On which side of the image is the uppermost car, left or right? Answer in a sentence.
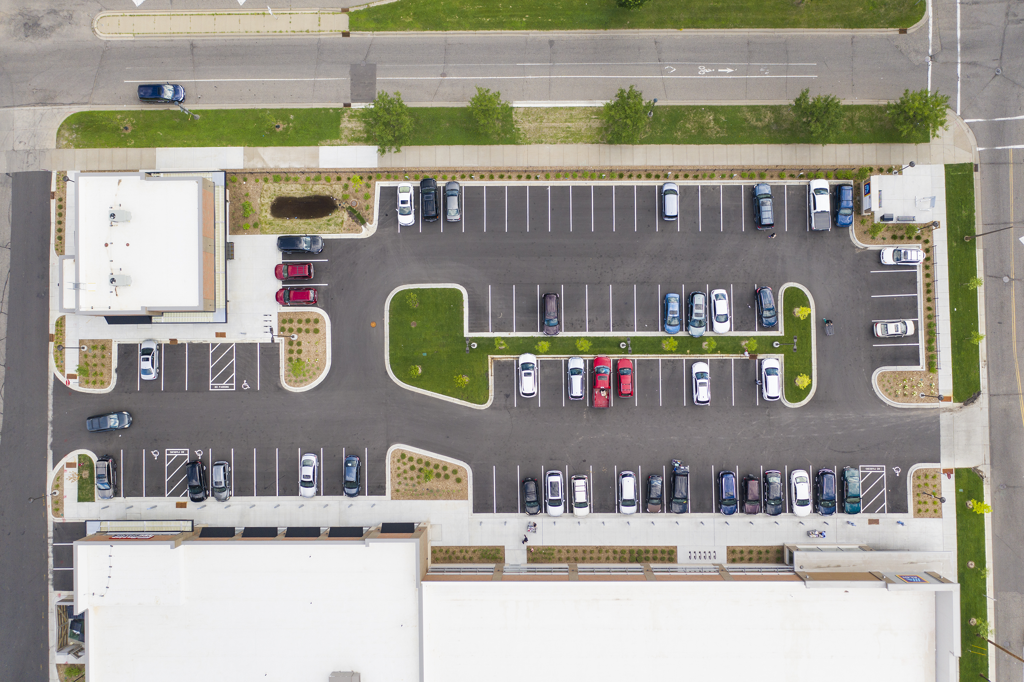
You can find the uppermost car on the left side of the picture.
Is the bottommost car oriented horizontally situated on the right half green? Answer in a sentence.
No, from above the bottommost car oriented horizontally situated on the right half looks white.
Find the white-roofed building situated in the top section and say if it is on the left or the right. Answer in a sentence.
You can find the white-roofed building situated in the top section on the left side of the picture.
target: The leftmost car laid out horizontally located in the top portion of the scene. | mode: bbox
[137,83,187,105]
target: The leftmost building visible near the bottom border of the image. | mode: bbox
[77,520,432,682]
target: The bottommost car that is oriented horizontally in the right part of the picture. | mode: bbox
[872,318,914,339]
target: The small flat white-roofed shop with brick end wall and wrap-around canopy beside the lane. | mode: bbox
[59,171,228,324]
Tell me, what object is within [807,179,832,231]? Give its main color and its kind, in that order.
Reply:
white truck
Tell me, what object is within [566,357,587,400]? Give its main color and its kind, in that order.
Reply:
white car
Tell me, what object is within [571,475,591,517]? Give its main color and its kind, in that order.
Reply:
white car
